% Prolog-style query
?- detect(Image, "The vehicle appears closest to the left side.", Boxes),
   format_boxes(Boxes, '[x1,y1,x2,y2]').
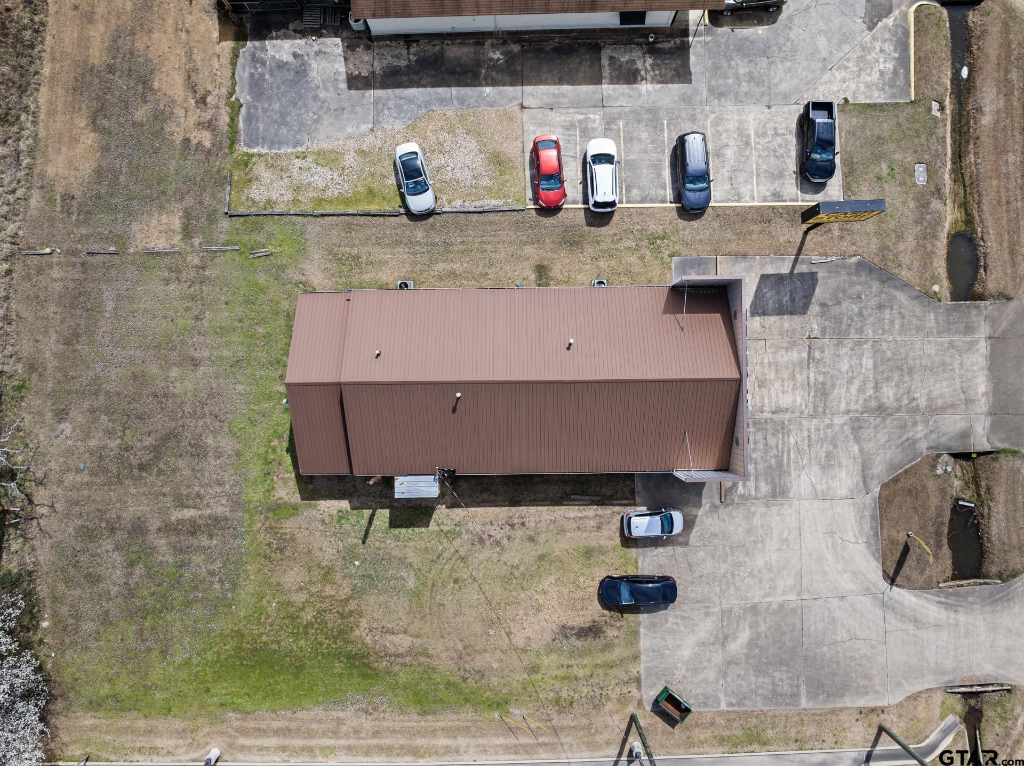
[395,141,434,216]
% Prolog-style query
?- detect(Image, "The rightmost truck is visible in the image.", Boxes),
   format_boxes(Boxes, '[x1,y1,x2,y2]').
[799,99,842,184]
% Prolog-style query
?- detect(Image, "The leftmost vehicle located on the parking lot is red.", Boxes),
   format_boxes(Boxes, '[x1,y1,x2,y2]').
[532,134,568,209]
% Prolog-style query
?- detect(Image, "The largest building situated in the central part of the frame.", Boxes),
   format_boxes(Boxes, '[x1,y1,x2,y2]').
[283,274,753,482]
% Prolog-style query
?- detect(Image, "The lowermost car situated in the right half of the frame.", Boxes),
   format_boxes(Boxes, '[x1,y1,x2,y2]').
[597,572,678,610]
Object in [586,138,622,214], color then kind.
white car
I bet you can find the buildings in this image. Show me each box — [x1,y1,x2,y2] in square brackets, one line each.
[349,0,726,41]
[283,274,753,482]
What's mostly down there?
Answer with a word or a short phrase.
grass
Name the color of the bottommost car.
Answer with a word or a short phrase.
black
